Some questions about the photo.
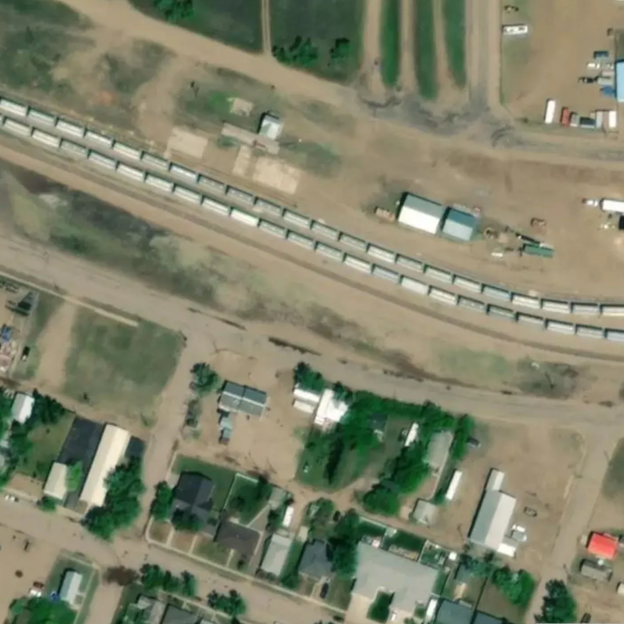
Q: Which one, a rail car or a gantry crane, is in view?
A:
rail car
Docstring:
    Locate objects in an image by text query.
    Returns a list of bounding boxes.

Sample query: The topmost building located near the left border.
[11,393,33,422]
